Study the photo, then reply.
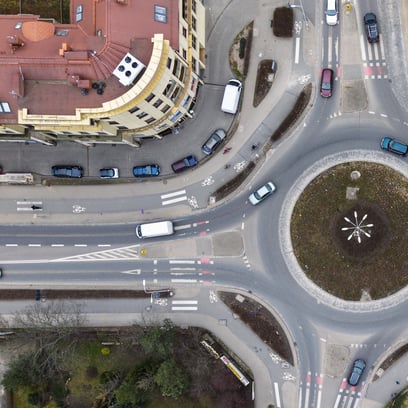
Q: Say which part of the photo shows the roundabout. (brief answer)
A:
right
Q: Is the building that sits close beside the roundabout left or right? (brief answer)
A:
left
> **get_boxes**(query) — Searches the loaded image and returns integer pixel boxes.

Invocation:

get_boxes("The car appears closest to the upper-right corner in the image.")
[363,11,379,41]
